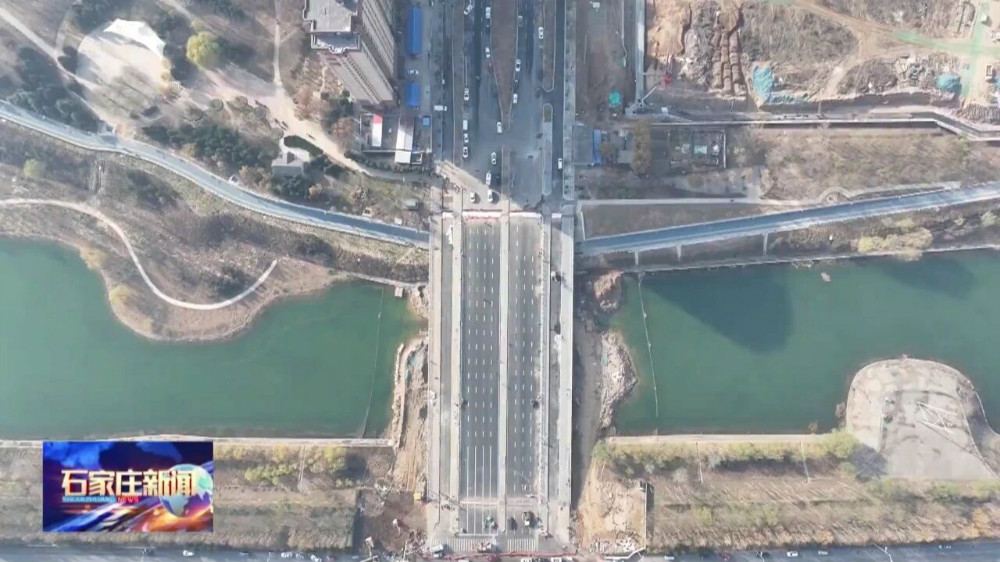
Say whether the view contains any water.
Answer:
Yes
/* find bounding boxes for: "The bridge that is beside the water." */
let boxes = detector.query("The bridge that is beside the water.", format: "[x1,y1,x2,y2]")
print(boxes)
[427,216,573,549]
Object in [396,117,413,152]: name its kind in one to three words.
building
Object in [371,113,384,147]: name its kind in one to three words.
shed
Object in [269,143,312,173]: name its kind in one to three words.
building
